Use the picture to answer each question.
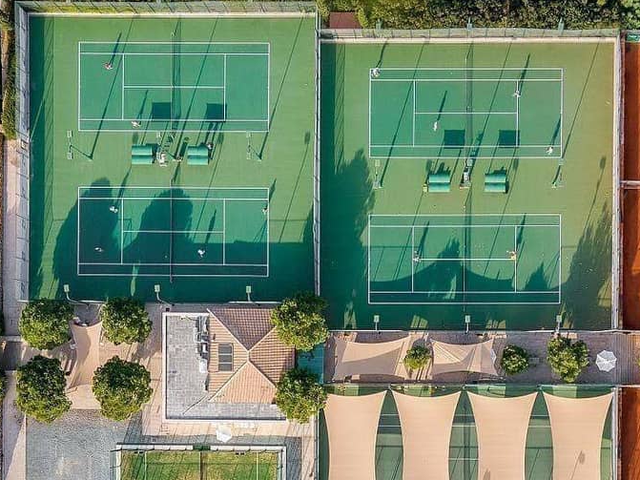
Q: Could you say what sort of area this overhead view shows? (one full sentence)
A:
What you see here is a sports ground.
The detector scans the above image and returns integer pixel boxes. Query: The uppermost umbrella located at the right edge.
[595,349,616,371]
